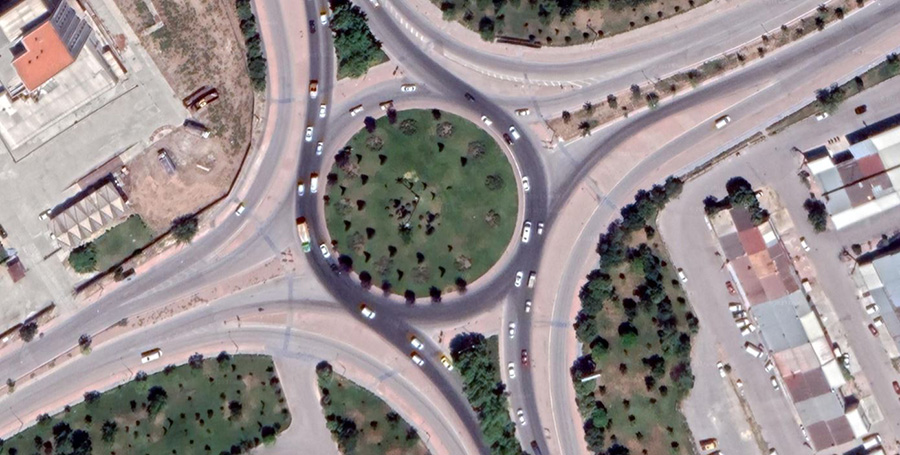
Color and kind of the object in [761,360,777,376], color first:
white vehicle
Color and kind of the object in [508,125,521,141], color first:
white vehicle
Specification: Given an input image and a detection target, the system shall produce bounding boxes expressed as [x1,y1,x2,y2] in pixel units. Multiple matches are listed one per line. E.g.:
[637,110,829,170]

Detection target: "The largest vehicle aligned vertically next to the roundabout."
[296,219,311,254]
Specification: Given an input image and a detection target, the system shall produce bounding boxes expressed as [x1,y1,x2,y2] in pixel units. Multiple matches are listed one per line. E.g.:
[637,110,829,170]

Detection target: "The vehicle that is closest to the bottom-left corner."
[140,349,163,363]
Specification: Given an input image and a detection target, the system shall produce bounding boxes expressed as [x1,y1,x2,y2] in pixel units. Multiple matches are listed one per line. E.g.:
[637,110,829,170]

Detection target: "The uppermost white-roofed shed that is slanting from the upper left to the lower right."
[104,47,127,77]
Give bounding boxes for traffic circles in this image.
[316,0,548,321]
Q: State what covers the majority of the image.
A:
paved ground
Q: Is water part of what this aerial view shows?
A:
No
